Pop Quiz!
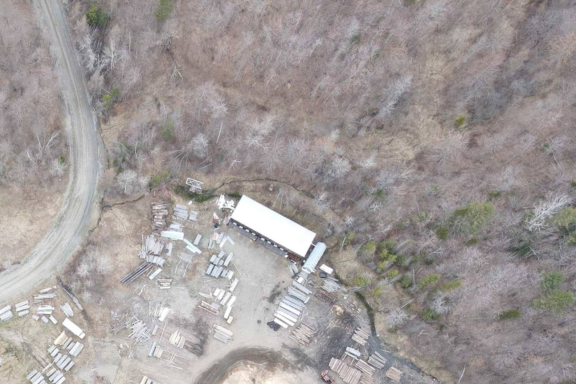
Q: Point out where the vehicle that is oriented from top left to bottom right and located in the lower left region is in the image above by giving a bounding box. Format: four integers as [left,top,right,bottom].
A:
[62,317,86,338]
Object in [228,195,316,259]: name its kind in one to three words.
shed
